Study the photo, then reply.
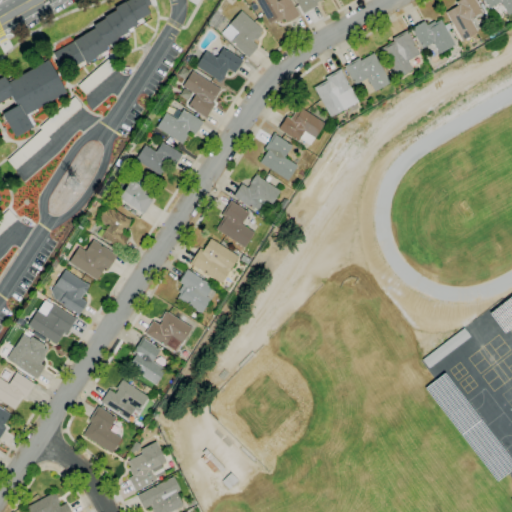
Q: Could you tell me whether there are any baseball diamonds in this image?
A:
Yes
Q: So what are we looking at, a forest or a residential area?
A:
residential area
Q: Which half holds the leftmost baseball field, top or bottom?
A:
bottom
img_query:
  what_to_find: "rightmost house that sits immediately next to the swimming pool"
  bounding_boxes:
[223,10,268,54]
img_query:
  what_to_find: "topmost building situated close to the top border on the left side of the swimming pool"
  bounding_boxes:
[54,0,164,62]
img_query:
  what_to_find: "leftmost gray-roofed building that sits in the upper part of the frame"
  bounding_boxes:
[0,64,64,138]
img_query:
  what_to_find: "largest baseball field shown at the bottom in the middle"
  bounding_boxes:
[210,350,312,474]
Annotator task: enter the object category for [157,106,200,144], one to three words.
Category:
house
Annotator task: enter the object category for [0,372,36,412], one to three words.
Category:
house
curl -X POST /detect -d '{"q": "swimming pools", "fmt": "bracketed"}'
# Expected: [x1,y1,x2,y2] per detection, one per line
[200,30,217,49]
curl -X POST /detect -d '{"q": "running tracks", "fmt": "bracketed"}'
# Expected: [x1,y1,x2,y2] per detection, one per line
[375,84,512,301]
